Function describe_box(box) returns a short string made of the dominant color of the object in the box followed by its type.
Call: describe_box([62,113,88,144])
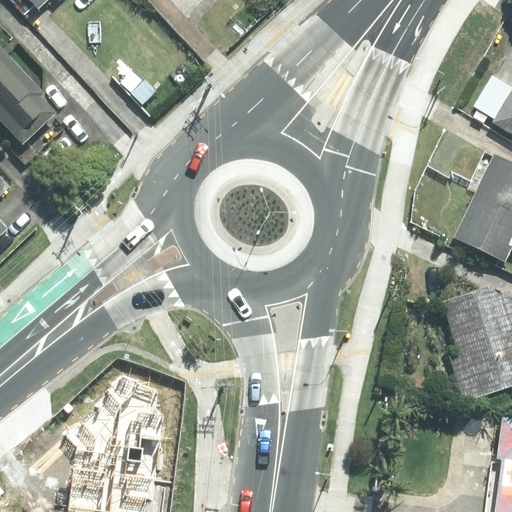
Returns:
white car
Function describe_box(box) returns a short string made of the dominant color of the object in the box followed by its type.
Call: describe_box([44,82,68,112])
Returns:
white car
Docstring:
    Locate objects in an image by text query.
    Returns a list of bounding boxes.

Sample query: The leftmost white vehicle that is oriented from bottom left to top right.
[6,208,33,236]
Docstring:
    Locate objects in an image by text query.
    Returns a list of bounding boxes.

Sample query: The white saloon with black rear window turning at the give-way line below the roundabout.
[228,288,252,321]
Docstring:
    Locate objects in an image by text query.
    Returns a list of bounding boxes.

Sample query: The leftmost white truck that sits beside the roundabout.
[120,220,155,251]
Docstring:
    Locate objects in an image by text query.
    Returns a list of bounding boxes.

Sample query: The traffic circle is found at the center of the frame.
[155,132,364,320]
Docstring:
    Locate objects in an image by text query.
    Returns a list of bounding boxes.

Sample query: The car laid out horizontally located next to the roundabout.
[132,290,166,308]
